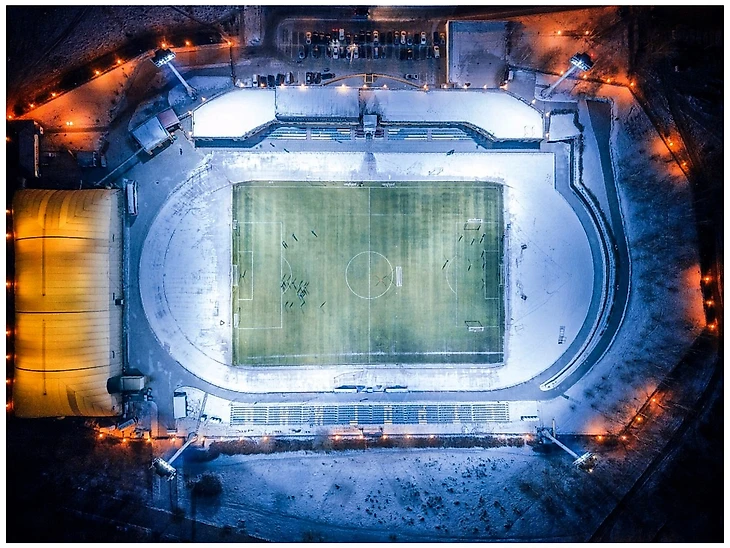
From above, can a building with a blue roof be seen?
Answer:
Yes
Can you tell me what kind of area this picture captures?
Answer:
sports ground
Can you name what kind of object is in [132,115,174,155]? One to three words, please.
building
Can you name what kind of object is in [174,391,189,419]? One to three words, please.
building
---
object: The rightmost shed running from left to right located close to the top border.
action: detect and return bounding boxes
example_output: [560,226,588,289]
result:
[452,21,507,34]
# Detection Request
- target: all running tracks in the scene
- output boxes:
[140,152,595,393]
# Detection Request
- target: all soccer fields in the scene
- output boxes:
[233,180,504,364]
